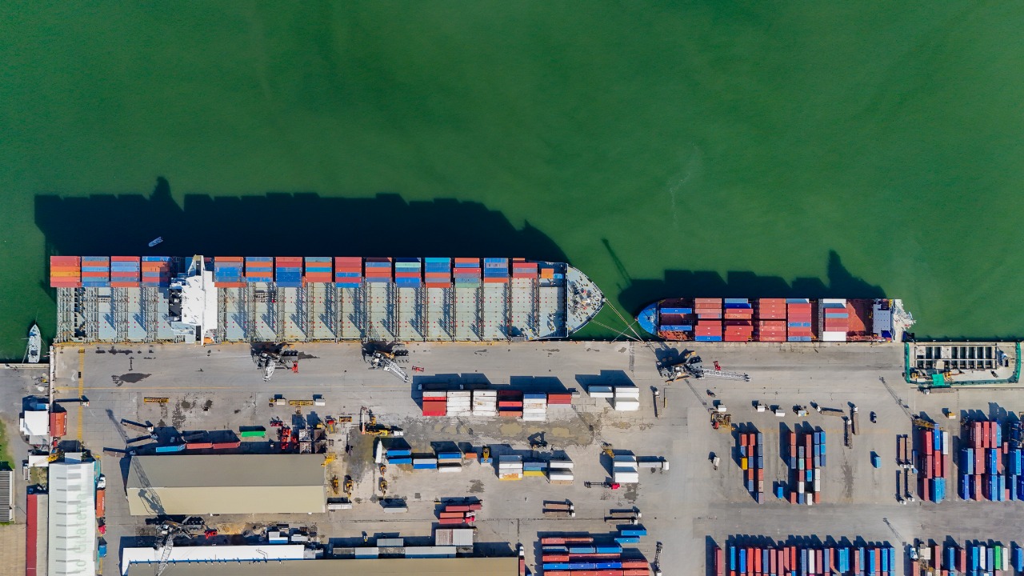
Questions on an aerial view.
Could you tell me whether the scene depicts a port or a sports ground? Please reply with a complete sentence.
This image shows a port.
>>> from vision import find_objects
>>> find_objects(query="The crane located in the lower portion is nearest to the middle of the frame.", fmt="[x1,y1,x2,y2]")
[362,344,411,385]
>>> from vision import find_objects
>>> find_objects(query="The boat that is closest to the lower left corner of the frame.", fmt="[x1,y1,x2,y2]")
[19,310,52,364]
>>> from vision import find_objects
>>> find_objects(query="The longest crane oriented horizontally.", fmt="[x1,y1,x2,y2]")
[658,356,753,383]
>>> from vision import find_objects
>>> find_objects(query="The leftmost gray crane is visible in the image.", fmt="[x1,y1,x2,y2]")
[147,515,199,576]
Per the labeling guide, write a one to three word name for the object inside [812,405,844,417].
vehicle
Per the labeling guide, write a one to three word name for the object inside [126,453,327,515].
building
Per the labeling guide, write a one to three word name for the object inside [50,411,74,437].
building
